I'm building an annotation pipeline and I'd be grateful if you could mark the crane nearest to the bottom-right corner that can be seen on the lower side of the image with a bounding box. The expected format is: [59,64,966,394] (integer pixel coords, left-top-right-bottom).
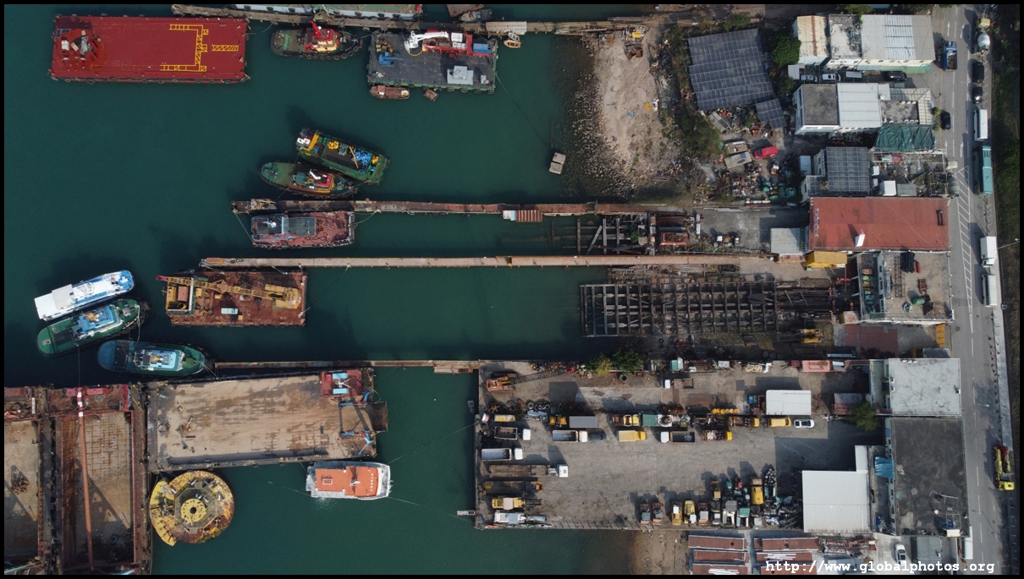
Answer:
[486,369,575,392]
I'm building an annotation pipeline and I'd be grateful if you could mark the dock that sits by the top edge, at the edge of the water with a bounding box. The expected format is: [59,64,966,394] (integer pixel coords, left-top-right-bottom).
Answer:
[172,5,670,38]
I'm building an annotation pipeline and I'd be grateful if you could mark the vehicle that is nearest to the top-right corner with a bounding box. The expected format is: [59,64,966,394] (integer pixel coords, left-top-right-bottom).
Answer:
[969,17,989,59]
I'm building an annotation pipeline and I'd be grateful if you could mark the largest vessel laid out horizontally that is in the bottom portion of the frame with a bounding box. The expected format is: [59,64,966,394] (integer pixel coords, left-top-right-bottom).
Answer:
[142,366,390,473]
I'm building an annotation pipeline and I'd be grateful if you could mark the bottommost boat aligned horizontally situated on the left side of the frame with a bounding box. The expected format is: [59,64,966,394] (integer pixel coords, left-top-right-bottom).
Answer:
[304,460,394,502]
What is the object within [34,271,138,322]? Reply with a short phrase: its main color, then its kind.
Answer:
white ship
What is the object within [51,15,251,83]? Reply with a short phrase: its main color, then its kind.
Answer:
red ship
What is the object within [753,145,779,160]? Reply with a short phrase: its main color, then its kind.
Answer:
red car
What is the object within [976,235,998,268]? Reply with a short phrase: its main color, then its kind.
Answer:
white truck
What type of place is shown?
port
